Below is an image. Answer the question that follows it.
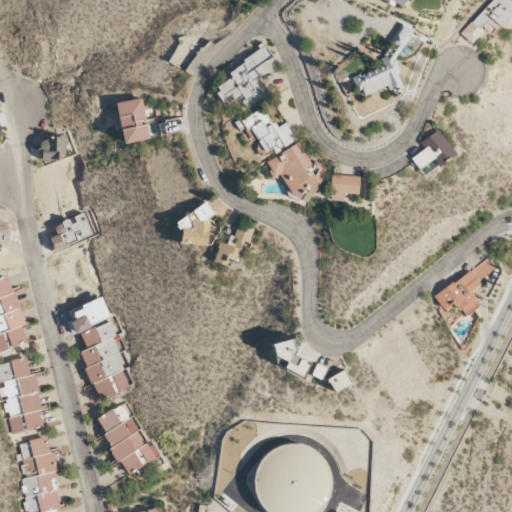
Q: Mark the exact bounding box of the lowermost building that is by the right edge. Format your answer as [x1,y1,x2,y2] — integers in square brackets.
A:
[434,258,497,316]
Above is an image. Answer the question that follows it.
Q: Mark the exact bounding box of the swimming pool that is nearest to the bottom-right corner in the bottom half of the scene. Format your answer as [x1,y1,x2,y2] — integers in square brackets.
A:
[454,319,472,336]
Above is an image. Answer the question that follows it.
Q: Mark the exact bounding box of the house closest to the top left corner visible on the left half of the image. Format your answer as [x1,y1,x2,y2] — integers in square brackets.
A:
[42,136,68,164]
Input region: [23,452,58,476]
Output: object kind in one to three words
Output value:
house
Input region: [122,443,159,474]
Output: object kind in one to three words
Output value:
house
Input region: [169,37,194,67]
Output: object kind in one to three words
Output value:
building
